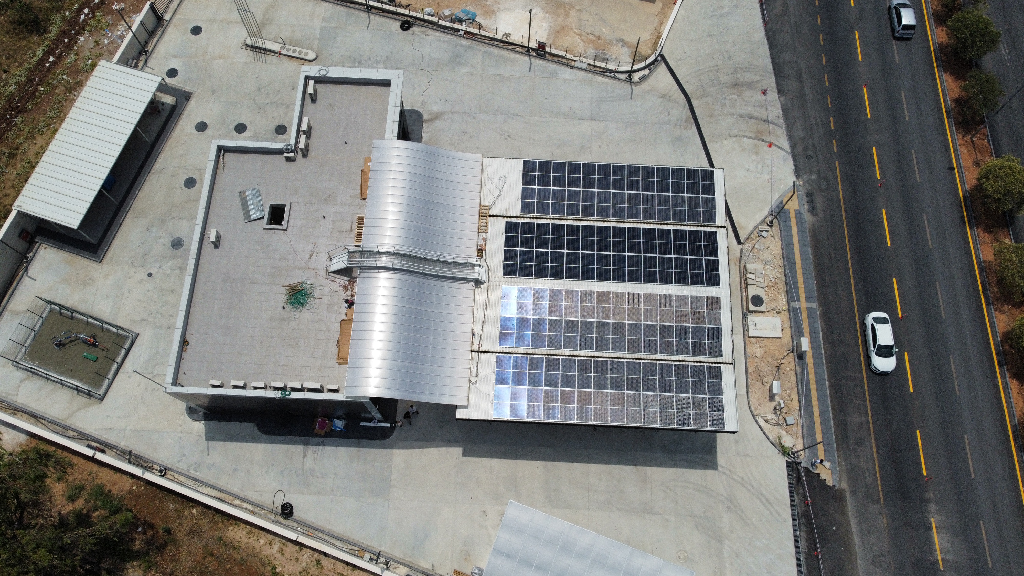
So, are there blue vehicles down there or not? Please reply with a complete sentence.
No, no blue vehicle is visible in the scene.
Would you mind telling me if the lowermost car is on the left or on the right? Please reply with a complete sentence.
It is on the right.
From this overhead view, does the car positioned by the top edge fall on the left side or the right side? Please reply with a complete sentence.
The car positioned by the top edge sits on the right side.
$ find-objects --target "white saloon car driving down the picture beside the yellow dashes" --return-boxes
[863,316,901,377]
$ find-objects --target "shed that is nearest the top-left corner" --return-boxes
[12,60,172,244]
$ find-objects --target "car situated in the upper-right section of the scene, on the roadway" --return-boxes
[890,0,921,35]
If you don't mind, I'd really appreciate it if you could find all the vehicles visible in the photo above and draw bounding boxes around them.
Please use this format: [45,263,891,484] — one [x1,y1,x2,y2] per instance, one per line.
[863,316,901,377]
[890,0,921,35]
